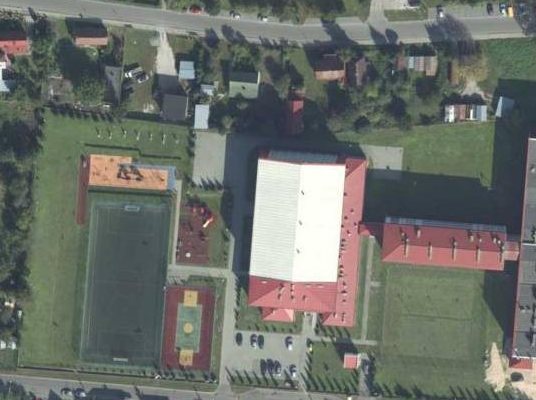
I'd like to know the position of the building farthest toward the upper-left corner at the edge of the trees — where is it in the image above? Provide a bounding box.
[0,25,29,56]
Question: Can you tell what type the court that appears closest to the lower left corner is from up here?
basketball court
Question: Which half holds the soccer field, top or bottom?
bottom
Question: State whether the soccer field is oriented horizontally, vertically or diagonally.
vertically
